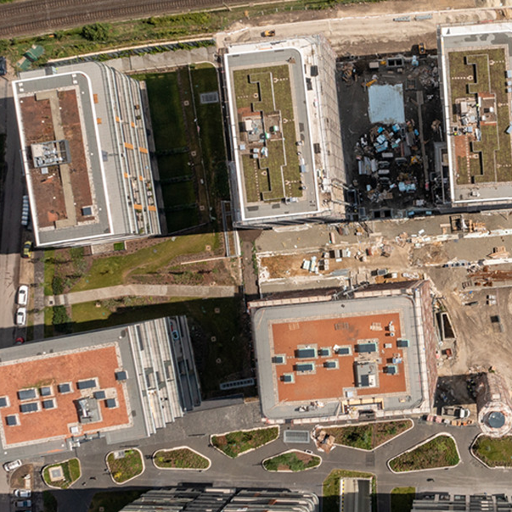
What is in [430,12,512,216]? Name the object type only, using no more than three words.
building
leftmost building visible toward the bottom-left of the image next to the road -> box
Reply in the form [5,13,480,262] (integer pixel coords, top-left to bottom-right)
[0,315,196,462]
